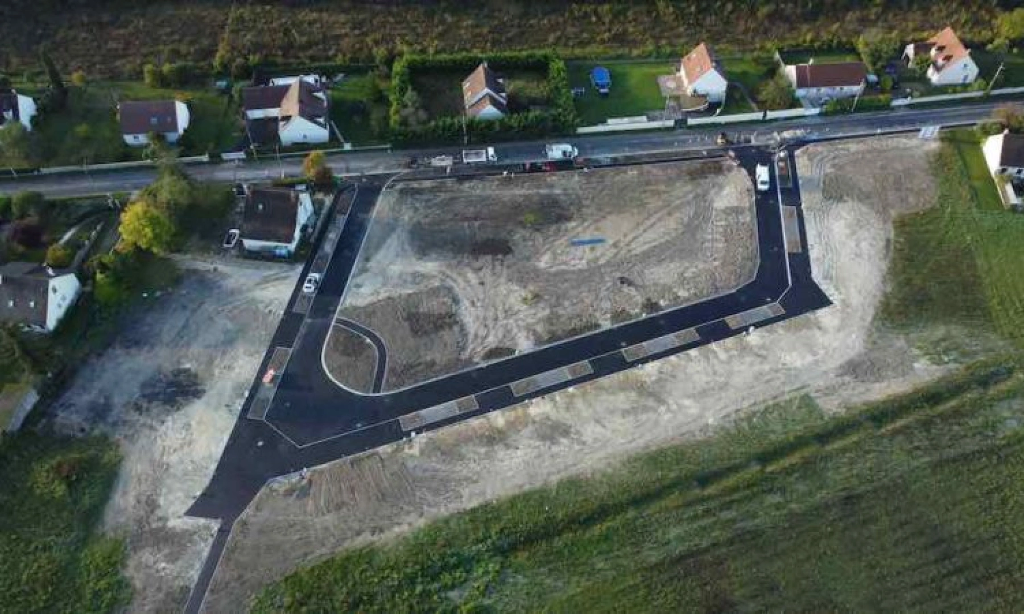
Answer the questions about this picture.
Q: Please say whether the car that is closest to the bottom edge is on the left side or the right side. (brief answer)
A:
left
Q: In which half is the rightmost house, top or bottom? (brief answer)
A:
top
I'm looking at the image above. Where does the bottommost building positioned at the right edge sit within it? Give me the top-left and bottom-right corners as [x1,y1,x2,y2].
[977,127,1024,204]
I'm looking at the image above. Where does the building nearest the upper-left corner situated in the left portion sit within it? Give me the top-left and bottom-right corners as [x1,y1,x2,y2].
[0,87,42,138]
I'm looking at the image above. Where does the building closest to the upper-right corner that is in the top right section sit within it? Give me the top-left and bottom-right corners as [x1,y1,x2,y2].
[902,37,984,89]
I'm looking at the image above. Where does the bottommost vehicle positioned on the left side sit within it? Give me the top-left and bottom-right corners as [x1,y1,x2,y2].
[301,269,321,291]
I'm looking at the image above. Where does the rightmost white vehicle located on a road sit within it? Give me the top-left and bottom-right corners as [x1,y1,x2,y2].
[757,165,772,189]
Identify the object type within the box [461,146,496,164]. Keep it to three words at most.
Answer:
vehicle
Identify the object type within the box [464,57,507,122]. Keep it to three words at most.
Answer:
house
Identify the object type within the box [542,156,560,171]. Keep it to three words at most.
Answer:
work vehicle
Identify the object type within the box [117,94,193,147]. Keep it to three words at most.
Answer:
house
